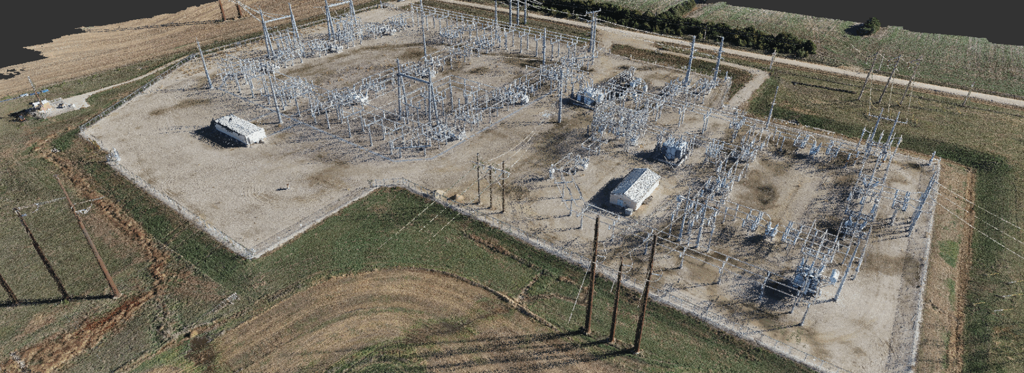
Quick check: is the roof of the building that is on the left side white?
Yes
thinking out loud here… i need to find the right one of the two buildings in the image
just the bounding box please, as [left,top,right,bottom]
[609,167,659,211]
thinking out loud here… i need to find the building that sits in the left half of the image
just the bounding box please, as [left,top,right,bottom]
[211,116,264,148]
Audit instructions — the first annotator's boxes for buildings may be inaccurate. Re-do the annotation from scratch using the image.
[211,116,264,148]
[609,167,659,211]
